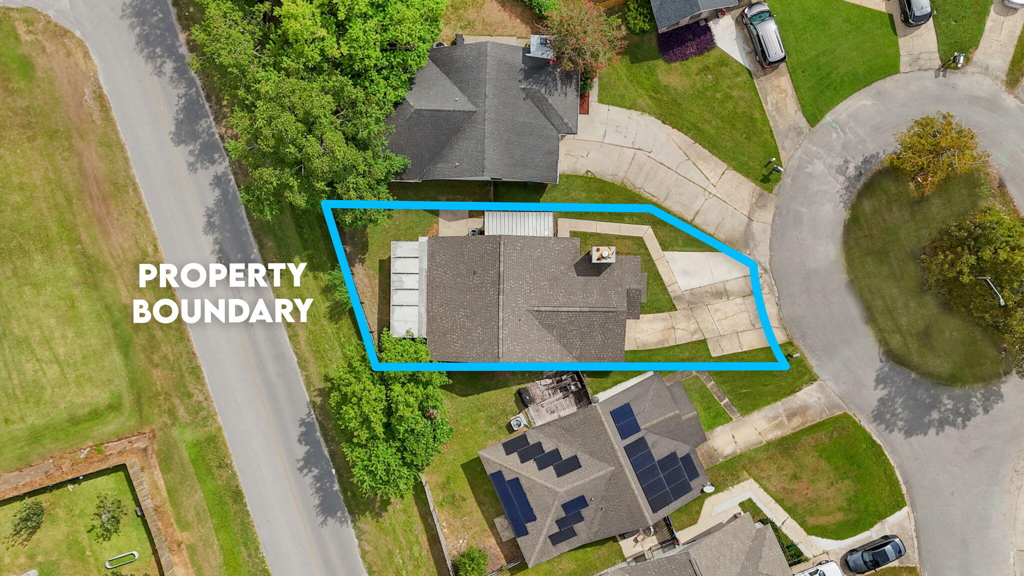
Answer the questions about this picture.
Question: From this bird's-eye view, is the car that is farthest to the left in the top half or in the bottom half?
top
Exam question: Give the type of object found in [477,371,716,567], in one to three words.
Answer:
house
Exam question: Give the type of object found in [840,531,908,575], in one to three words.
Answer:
car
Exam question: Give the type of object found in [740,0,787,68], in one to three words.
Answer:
car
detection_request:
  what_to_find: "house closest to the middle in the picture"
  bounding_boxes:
[391,211,646,365]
